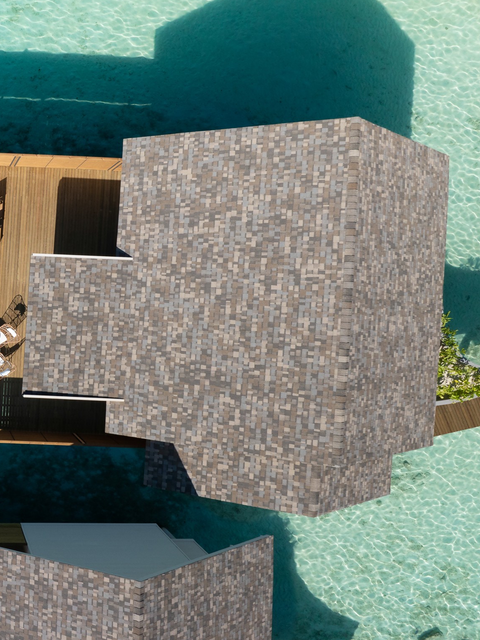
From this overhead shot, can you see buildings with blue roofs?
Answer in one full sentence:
No, no building with a blue roof is visible in the scene.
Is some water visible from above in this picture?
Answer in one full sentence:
Yes, water shows up in the scene.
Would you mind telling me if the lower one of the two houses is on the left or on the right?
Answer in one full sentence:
The lower one of the two houses appears in the left half of the scene.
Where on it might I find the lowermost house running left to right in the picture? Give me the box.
[0,523,269,640]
